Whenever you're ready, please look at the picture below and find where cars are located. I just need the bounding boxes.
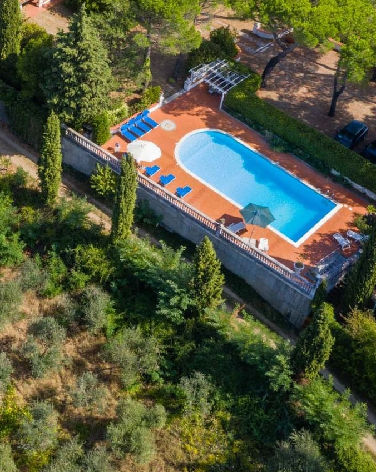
[360,139,376,164]
[333,120,370,150]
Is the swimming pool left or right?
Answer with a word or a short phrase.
right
